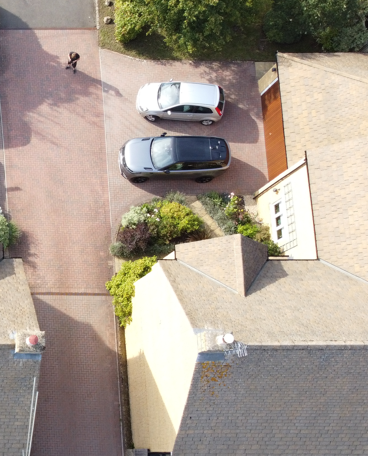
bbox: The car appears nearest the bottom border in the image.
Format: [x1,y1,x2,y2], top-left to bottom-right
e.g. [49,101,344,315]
[117,131,232,184]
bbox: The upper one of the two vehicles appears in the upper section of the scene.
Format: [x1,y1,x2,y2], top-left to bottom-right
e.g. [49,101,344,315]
[136,77,225,127]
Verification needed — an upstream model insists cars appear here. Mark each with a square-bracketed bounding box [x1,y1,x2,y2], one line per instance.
[117,131,232,184]
[136,77,225,127]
